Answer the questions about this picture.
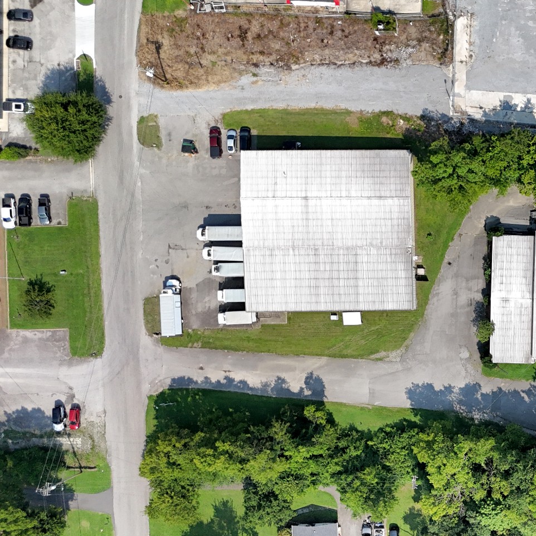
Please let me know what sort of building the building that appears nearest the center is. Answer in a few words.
warehouse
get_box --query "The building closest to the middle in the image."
[240,149,420,312]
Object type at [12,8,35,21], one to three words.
vehicle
